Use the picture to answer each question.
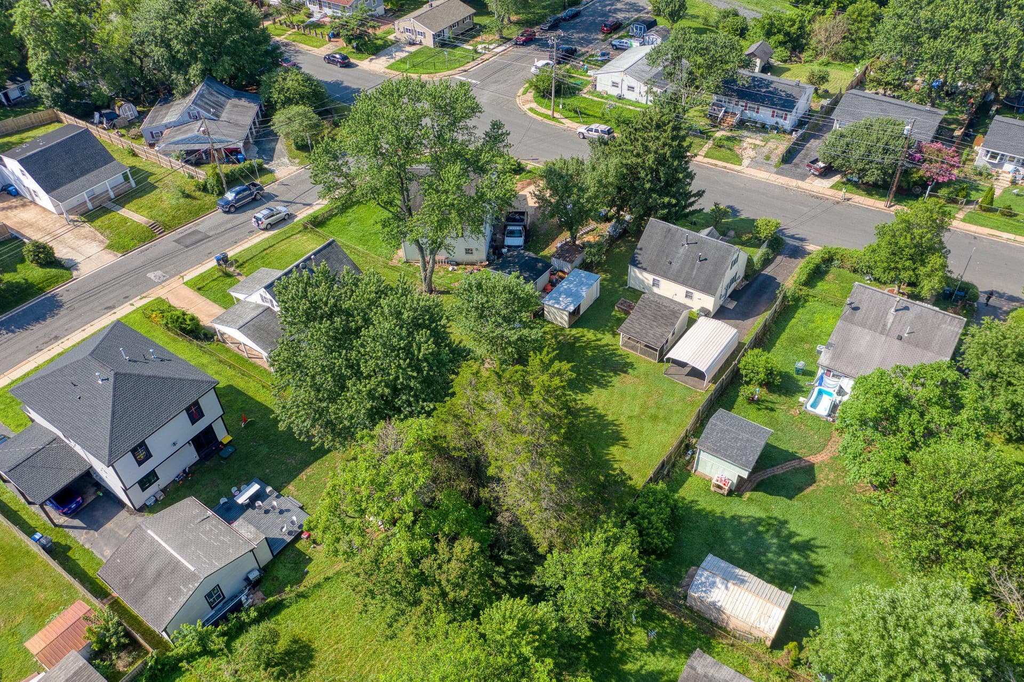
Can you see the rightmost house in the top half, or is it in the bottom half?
top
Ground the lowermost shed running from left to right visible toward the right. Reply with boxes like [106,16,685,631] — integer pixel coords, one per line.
[674,639,774,682]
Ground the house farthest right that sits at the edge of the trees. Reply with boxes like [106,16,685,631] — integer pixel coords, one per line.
[979,115,1024,187]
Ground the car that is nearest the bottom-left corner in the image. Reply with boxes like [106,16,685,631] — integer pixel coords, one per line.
[49,488,86,523]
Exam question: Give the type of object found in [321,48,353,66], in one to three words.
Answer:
car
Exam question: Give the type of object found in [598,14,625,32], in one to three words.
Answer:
vehicle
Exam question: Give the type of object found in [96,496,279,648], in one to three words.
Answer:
building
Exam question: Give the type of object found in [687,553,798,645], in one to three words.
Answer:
shed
